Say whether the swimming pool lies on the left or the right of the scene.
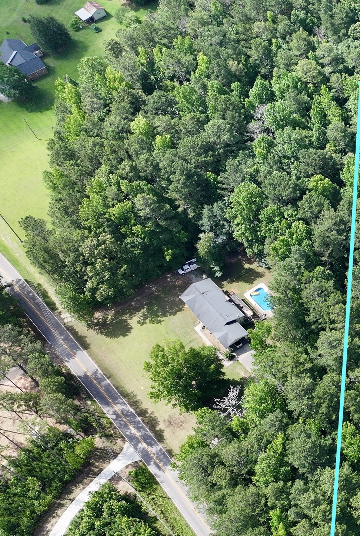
right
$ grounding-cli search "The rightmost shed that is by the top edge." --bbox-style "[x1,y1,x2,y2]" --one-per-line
[74,0,108,27]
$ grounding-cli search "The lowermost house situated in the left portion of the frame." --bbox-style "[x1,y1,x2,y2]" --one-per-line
[0,37,49,79]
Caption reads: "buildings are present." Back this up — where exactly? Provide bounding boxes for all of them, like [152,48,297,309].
[0,37,49,79]
[74,0,108,27]
[178,279,257,353]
